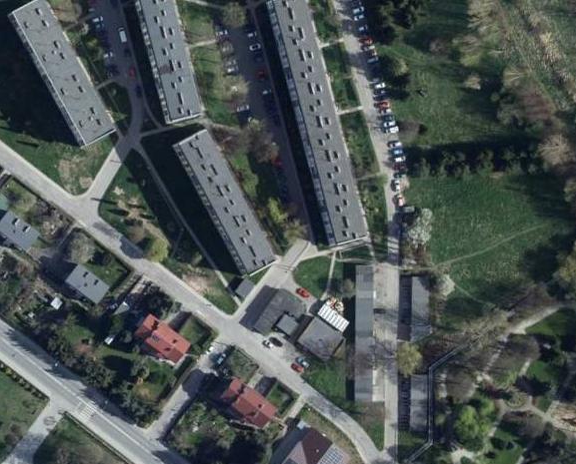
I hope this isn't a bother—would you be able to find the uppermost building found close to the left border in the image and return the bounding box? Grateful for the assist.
[9,0,115,148]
